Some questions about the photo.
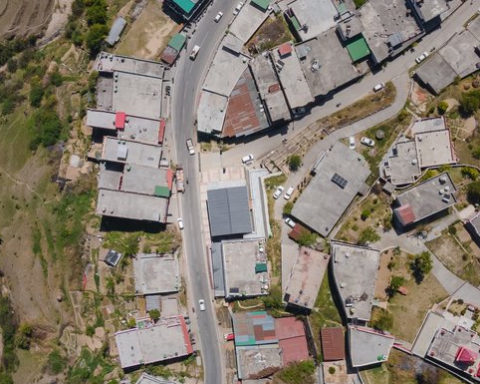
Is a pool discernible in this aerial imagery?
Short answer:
No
